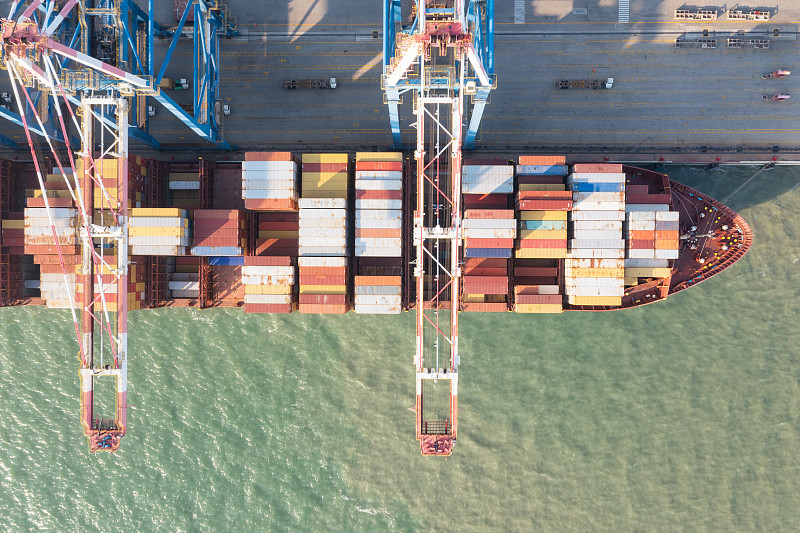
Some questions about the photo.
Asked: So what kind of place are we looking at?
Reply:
port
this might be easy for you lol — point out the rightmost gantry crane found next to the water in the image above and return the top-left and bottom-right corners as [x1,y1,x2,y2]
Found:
[373,0,497,463]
